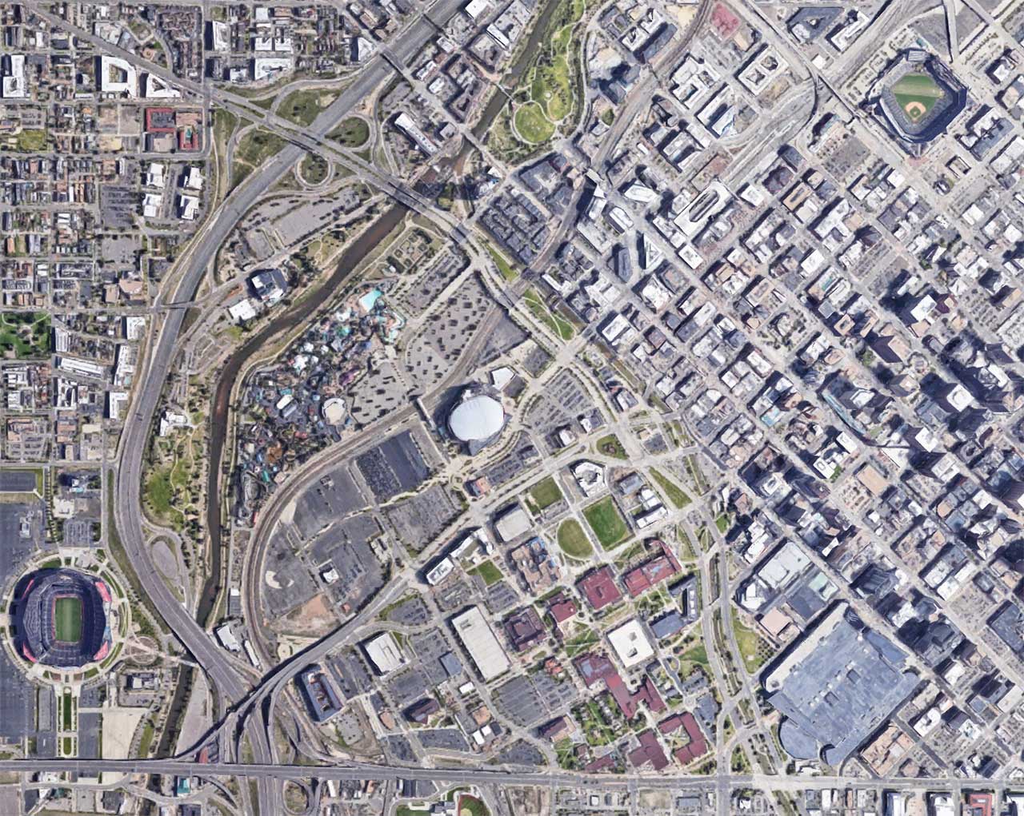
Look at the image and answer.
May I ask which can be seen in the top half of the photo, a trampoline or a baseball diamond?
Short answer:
baseball diamond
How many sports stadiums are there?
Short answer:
3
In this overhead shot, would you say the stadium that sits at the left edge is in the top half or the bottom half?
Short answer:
bottom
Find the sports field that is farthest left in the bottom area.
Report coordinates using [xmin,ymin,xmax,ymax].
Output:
[55,596,82,641]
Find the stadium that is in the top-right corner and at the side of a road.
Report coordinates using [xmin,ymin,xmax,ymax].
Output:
[865,49,970,158]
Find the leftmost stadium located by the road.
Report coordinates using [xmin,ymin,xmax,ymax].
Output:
[11,571,116,670]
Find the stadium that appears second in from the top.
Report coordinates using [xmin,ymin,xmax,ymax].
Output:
[439,387,510,457]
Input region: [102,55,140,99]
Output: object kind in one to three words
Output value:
building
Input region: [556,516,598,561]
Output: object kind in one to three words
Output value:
sports field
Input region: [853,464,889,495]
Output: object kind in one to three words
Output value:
building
